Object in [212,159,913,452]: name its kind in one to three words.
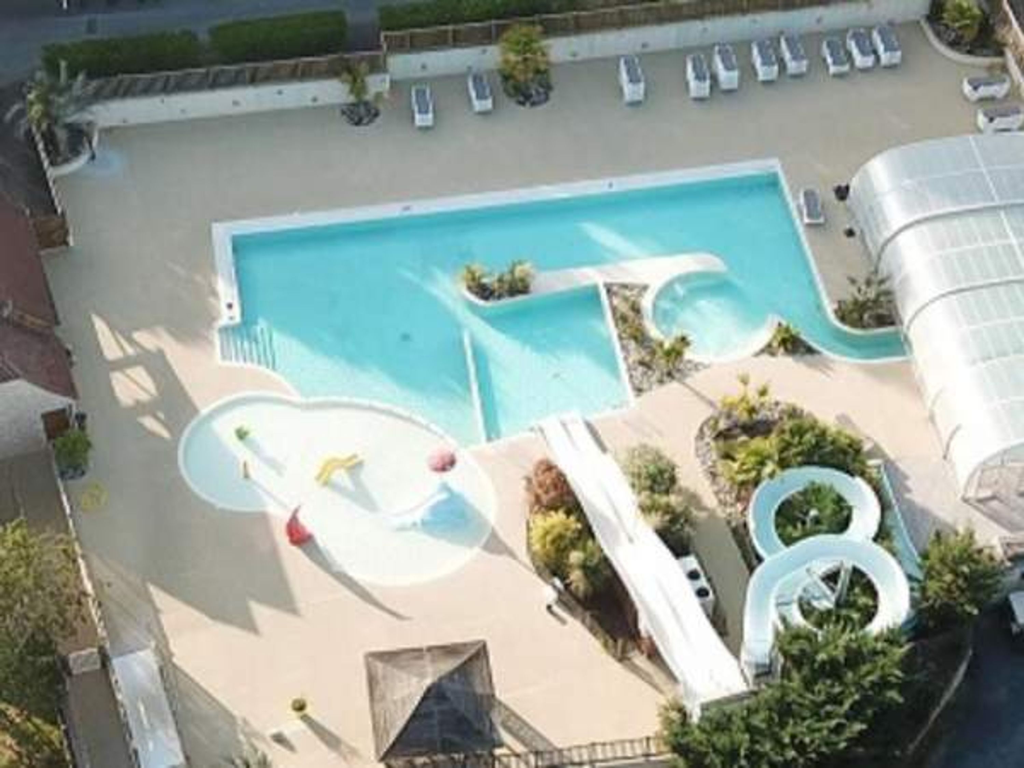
swimming pool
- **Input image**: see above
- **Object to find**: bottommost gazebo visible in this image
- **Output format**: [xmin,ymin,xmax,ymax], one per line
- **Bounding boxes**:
[364,640,504,768]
